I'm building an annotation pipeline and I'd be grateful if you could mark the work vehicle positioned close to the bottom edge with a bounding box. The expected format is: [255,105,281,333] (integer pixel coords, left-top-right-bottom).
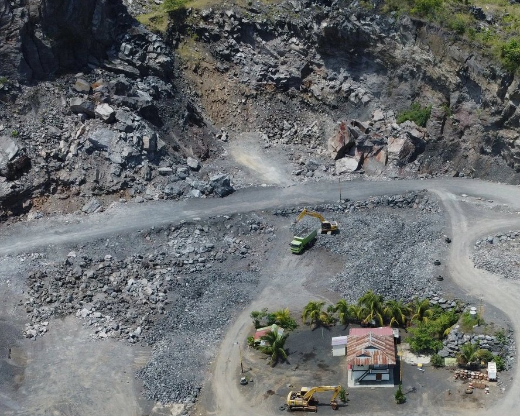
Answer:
[285,382,341,415]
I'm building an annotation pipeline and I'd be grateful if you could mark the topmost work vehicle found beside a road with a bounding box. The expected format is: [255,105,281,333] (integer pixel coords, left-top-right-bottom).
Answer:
[294,204,340,233]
